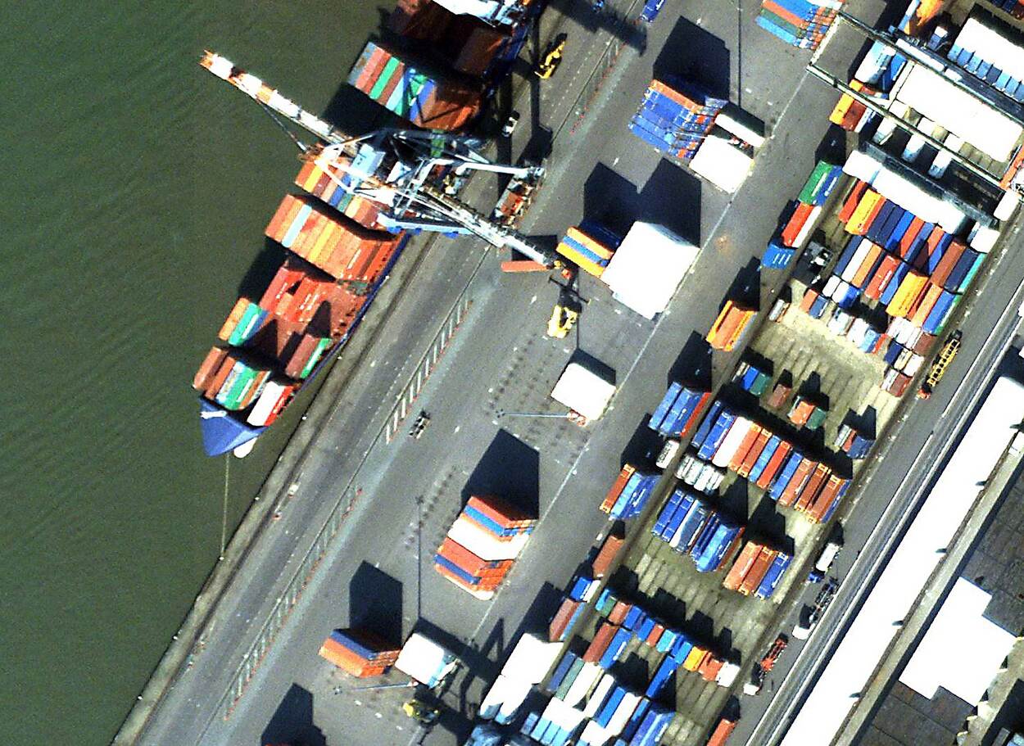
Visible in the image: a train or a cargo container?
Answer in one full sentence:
Visible in the photo is a cargo container.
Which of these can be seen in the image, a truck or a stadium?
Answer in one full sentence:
It is a truck that can be seen here.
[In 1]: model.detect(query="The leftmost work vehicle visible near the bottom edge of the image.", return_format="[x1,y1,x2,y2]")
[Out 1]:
[404,700,443,726]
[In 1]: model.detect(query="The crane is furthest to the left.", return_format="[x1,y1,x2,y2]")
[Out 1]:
[190,46,558,268]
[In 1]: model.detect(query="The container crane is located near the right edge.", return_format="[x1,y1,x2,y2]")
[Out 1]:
[805,8,1024,199]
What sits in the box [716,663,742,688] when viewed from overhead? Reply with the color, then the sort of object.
white shipping container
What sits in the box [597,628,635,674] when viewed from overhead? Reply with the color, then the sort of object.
blue shipping container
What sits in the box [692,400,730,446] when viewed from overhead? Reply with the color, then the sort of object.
blue shipping container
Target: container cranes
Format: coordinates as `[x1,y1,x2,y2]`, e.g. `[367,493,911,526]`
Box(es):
[190,46,558,268]
[805,8,1024,199]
